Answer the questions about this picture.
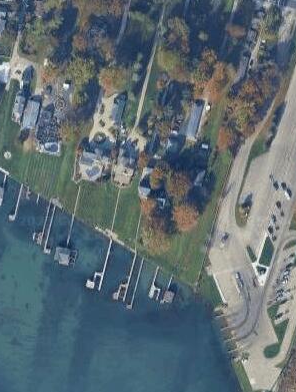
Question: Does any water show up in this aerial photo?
Yes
